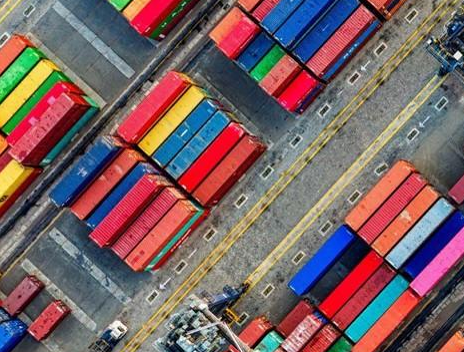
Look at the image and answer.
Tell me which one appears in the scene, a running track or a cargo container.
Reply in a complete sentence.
This aerial view contains a cargo container.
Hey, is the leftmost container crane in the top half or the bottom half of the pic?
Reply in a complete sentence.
The leftmost container crane sits in the bottom half of the picture.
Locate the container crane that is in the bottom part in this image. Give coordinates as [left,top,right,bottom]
[147,283,260,352]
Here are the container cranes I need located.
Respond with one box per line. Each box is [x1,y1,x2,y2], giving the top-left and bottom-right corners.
[422,3,464,86]
[147,283,260,352]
